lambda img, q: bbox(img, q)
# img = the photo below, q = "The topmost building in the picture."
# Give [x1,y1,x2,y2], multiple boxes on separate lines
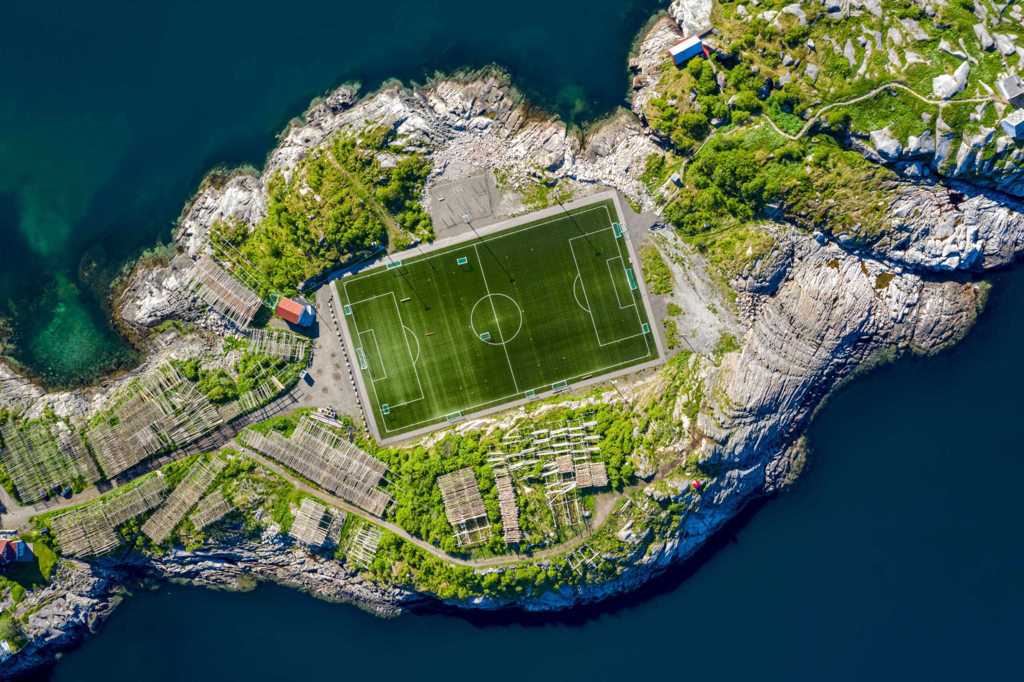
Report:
[667,37,707,67]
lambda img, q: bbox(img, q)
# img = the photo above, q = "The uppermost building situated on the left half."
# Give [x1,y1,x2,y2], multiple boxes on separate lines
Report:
[276,296,314,324]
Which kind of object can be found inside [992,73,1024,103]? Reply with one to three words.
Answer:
house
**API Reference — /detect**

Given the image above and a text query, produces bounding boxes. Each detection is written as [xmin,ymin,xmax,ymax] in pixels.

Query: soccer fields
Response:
[328,191,666,447]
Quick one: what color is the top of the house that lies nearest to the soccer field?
red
